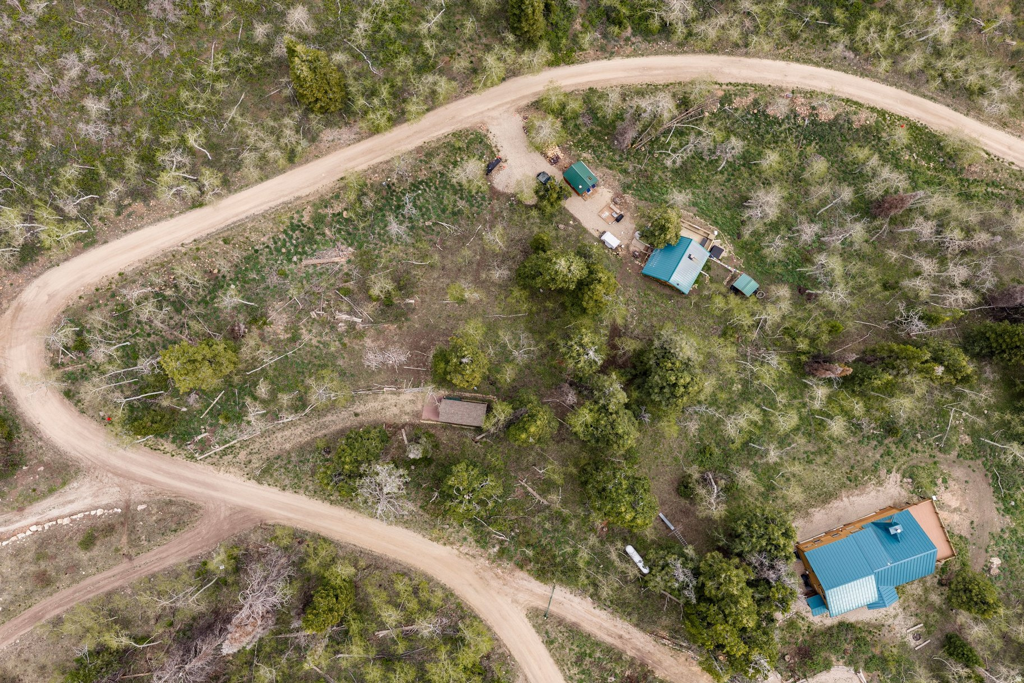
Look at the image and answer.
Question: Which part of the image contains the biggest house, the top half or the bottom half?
bottom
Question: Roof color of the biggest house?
blue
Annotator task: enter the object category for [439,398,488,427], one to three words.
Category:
building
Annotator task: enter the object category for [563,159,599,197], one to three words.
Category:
building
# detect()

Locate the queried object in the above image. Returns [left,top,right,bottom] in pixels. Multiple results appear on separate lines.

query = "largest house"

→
[796,507,938,619]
